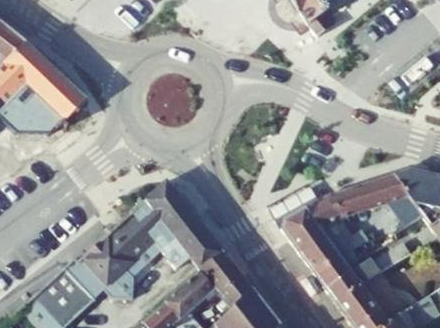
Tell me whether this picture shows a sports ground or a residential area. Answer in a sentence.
This image shows a residential area.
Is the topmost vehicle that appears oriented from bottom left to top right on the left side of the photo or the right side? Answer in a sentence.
The topmost vehicle that appears oriented from bottom left to top right is on the right side of the image.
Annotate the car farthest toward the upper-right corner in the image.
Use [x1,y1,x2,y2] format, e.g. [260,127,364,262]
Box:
[398,0,417,18]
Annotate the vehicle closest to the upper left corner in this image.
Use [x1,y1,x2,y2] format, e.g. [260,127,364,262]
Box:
[118,6,139,28]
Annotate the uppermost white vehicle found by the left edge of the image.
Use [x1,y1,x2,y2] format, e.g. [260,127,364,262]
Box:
[4,184,22,202]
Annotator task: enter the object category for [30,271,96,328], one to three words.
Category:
house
